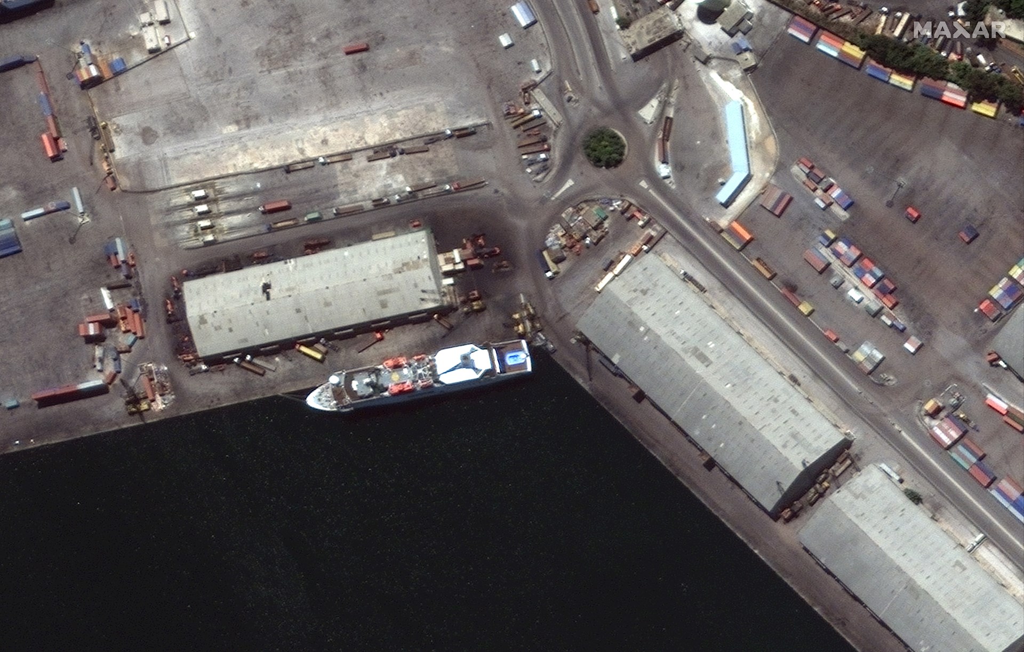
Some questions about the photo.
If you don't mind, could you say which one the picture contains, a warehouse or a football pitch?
warehouse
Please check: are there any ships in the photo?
Yes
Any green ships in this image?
No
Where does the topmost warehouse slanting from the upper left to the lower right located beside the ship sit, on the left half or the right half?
right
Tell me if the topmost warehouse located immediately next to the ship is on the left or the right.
left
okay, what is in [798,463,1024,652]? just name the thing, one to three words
warehouse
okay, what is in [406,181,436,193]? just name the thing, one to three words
vehicle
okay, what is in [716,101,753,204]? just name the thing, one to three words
house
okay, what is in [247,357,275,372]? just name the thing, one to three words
vehicle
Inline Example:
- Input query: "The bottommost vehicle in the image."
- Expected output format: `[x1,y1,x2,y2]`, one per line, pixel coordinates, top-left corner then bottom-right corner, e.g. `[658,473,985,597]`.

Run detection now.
[970,534,986,552]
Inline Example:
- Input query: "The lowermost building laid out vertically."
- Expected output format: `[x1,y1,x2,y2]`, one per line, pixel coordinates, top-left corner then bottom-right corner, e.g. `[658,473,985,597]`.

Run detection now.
[986,304,1024,385]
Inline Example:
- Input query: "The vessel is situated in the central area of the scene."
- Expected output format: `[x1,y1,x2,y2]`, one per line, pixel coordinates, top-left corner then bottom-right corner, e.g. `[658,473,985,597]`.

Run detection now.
[306,340,533,412]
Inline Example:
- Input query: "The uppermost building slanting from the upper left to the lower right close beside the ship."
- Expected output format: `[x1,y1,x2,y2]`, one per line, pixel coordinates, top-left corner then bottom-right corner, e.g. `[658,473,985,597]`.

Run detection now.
[575,252,854,519]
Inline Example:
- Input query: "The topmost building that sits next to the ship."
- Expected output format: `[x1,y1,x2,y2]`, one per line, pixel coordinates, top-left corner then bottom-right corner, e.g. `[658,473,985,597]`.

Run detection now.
[183,230,449,360]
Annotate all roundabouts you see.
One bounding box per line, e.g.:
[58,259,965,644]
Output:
[566,109,645,188]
